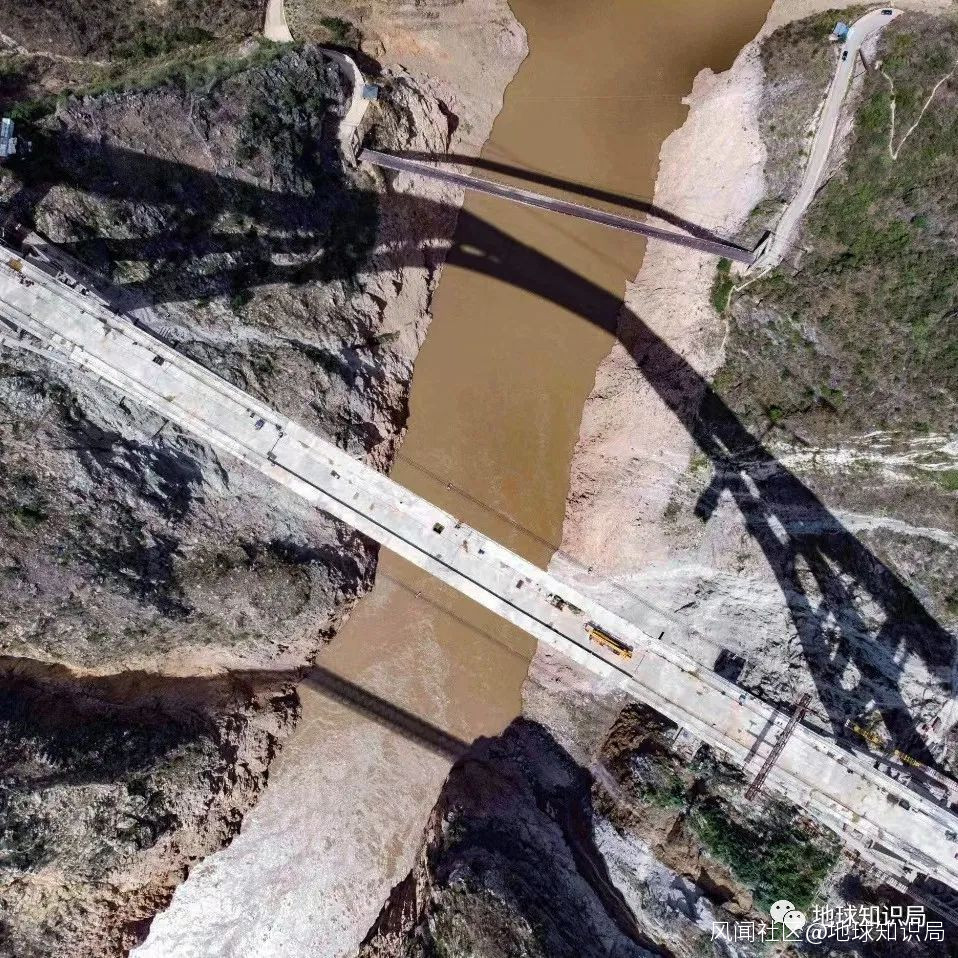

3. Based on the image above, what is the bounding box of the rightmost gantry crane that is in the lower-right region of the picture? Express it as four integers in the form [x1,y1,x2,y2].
[739,696,814,799]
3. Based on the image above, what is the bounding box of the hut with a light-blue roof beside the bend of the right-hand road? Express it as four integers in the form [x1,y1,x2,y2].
[827,16,854,45]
